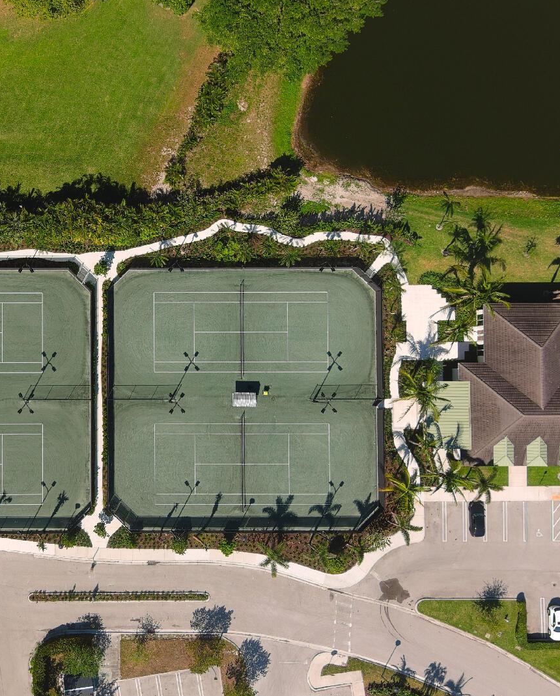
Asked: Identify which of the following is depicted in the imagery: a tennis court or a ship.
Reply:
tennis court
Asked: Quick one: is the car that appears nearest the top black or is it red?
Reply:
black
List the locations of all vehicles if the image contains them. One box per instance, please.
[546,601,560,640]
[466,500,487,537]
